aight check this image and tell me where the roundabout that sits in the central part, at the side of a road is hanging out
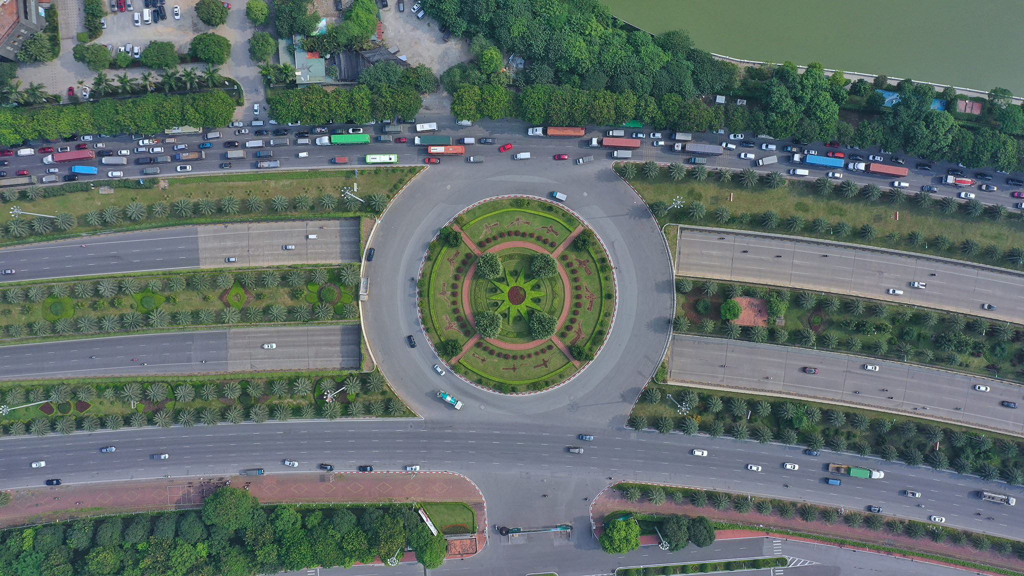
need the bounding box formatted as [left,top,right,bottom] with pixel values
[361,160,673,425]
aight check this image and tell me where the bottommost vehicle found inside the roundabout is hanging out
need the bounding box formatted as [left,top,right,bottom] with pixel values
[436,389,466,410]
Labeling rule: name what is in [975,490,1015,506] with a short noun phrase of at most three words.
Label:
vehicle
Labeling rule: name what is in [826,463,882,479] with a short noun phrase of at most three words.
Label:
vehicle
